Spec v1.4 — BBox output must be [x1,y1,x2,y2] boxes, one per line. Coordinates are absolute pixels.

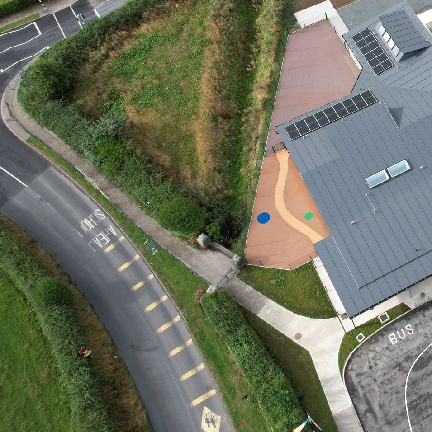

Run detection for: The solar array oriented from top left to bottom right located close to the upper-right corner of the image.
[351,29,394,74]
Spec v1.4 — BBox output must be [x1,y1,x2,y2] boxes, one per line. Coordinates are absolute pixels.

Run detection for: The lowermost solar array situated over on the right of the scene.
[285,89,378,140]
